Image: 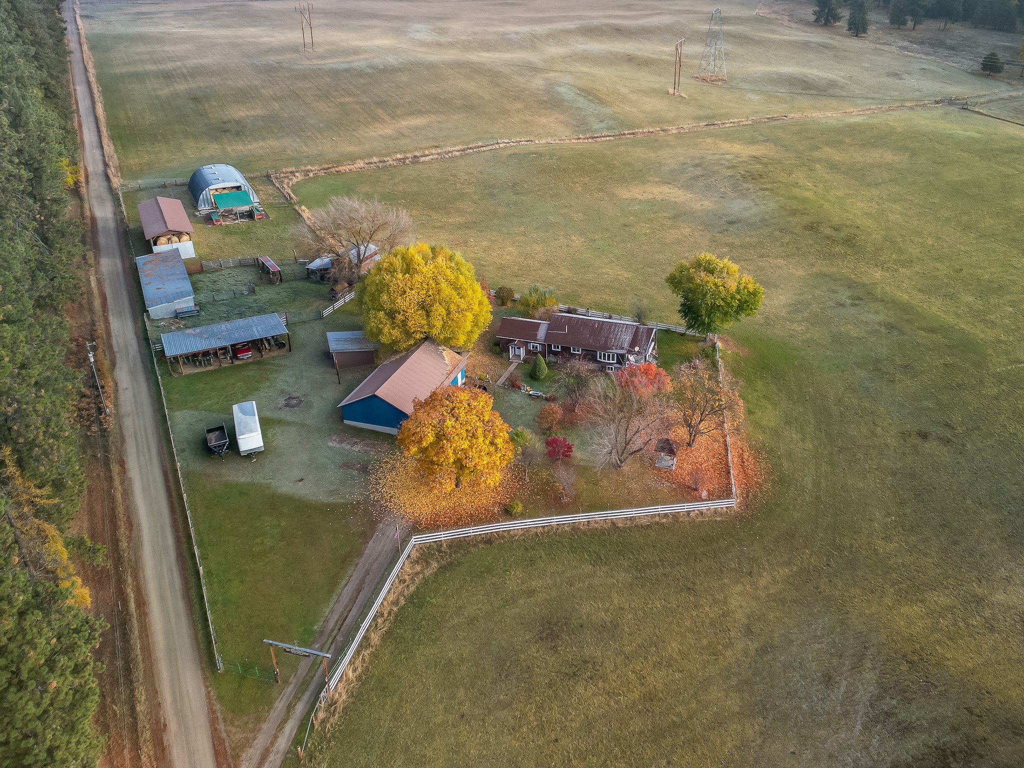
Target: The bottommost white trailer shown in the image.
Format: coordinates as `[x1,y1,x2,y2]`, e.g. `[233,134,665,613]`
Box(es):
[233,401,264,461]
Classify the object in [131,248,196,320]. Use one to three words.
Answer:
shed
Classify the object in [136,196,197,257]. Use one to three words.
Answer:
barn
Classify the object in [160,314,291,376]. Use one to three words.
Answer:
shed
